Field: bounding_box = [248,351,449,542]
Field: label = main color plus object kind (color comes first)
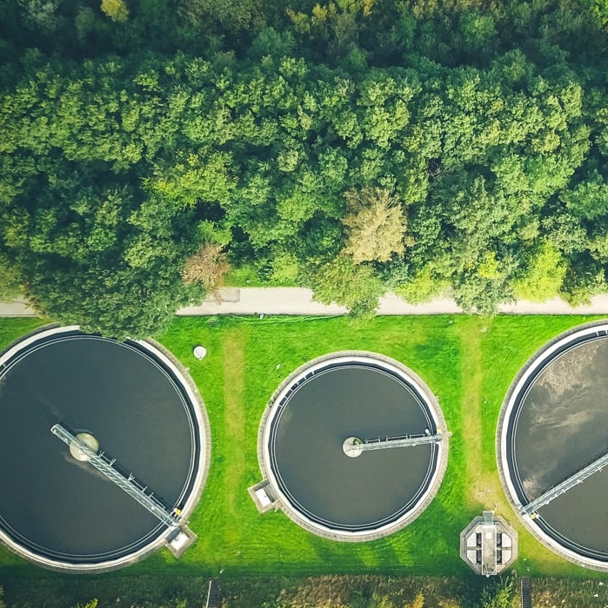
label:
gray storage tank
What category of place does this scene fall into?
industrial area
